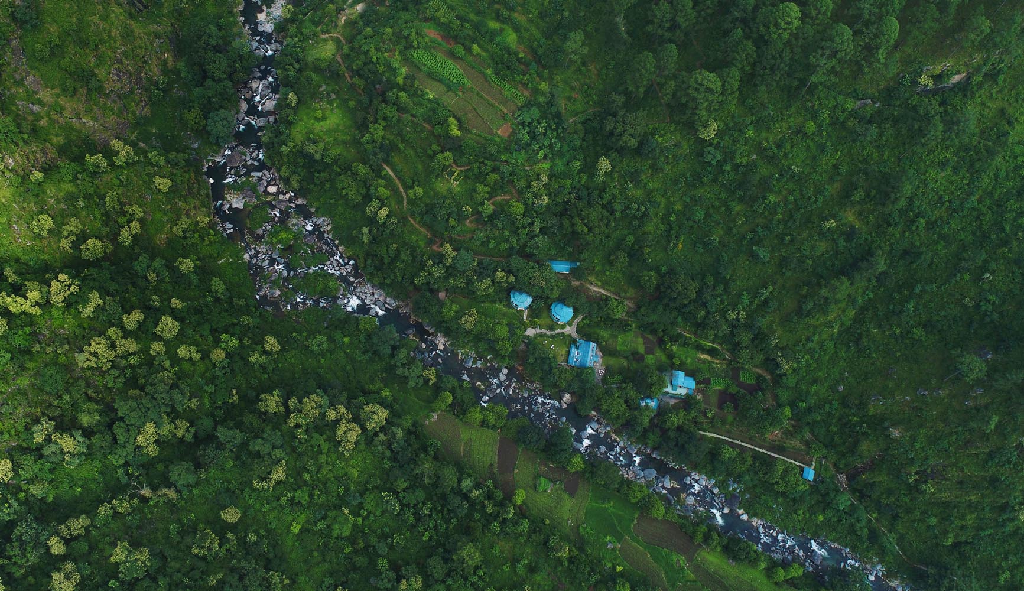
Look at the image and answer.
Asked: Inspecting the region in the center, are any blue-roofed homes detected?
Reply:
Yes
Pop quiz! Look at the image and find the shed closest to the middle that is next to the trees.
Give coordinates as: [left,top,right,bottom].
[510,290,531,316]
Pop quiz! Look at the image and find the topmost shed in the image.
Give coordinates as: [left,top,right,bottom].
[548,261,580,274]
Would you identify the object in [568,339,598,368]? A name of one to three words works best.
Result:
house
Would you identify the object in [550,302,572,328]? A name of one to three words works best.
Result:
shed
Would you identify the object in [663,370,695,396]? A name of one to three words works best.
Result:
house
